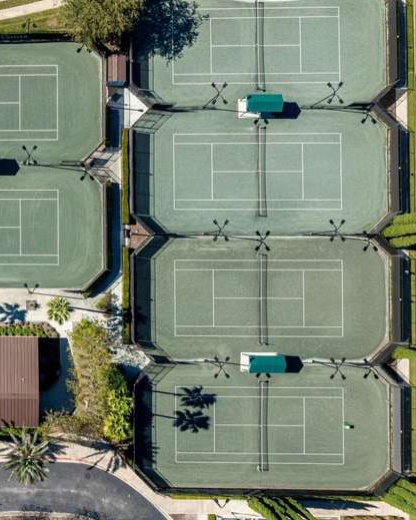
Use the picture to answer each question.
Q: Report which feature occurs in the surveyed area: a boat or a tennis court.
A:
tennis court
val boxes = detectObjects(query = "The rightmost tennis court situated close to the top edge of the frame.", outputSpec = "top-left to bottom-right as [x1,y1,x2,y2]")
[134,0,388,108]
